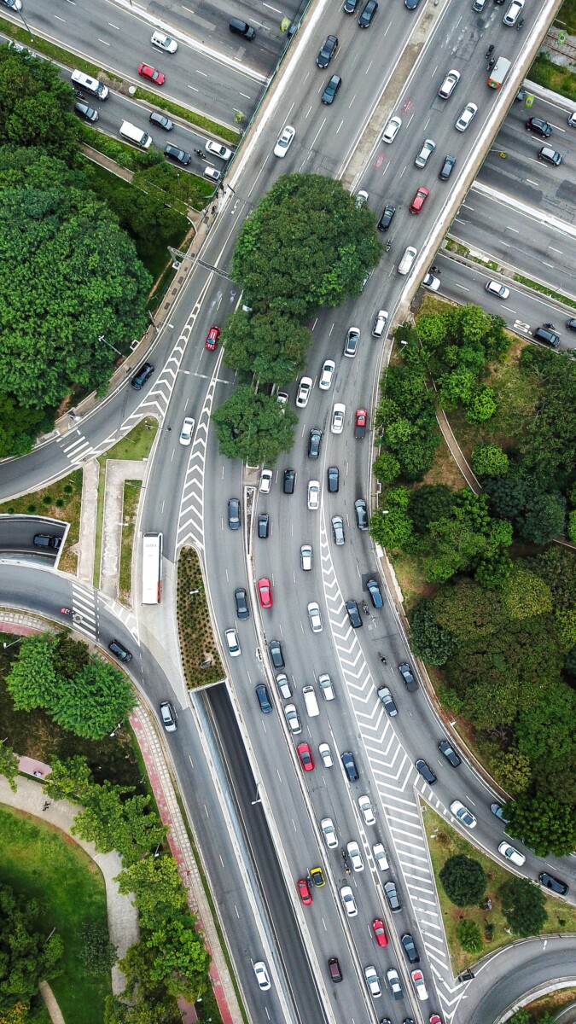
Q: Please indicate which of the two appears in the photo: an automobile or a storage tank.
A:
automobile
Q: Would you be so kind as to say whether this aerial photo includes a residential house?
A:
No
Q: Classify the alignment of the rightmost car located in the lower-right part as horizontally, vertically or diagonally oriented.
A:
diagonally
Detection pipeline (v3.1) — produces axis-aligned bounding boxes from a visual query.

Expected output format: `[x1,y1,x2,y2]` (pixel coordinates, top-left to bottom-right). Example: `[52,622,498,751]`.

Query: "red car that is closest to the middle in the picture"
[257,578,272,609]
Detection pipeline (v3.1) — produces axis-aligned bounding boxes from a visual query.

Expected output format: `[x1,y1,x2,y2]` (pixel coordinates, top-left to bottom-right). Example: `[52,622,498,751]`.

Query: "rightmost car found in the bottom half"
[538,870,570,896]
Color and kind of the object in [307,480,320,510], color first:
white vehicle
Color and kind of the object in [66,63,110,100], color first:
white vehicle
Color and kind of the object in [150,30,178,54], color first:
white car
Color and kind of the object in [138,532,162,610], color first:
white bus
